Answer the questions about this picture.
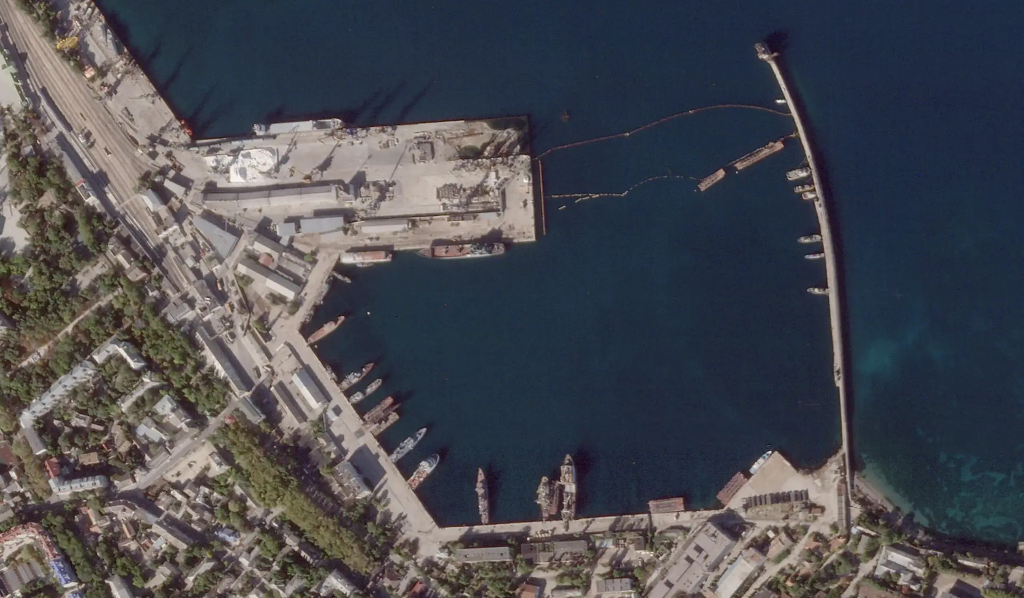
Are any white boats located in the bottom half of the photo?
Yes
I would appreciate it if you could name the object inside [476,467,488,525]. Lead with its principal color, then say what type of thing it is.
gray ship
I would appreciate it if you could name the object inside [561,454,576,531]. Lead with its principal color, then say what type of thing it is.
gray ship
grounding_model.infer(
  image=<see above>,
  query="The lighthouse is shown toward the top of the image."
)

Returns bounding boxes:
[755,41,774,64]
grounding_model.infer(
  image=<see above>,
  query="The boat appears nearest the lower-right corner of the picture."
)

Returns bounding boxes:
[748,451,772,475]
